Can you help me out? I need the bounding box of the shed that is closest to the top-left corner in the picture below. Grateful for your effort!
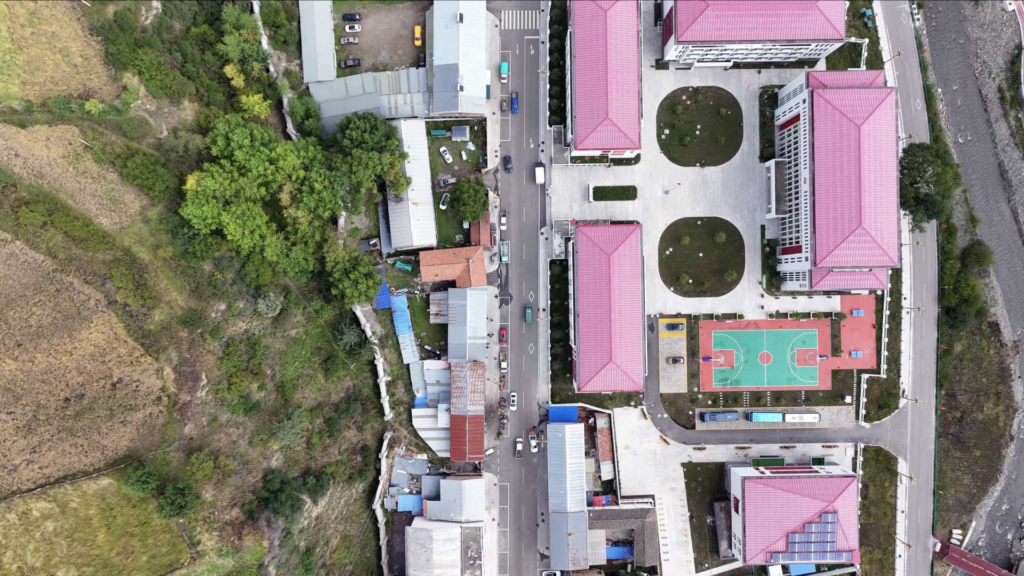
[301,0,339,85]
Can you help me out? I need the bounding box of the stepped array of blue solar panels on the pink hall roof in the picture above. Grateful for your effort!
[767,513,852,563]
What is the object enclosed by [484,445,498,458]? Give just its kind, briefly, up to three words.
vehicle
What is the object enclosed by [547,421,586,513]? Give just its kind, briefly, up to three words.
house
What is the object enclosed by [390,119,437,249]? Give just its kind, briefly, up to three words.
shed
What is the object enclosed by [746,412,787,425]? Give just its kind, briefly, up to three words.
vehicle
